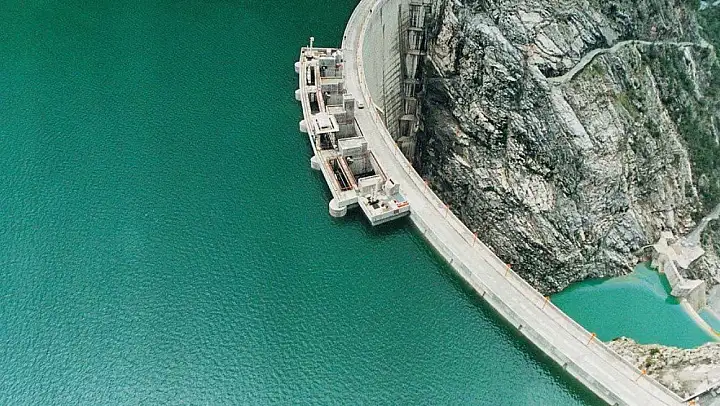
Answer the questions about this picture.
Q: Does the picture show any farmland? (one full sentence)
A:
No, farmland can't be seen anywhere here.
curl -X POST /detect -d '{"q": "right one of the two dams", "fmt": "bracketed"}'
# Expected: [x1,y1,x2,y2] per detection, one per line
[637,234,720,337]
